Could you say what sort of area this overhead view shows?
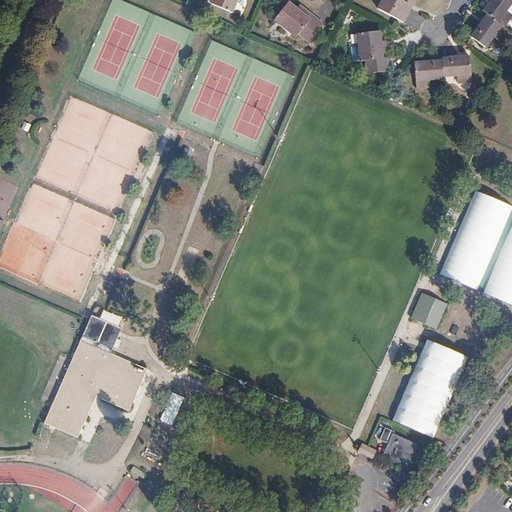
sports ground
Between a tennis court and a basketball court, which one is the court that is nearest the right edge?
tennis court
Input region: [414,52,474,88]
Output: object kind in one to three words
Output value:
house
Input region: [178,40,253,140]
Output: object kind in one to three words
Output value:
tennis court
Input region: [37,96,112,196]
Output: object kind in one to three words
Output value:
tennis court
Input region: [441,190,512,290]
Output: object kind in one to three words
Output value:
building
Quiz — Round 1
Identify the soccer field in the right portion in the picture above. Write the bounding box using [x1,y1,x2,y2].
[196,67,456,430]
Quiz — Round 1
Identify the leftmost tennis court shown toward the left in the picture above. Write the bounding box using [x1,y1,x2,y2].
[0,184,74,284]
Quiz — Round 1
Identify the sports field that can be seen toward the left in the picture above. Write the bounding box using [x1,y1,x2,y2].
[0,317,39,442]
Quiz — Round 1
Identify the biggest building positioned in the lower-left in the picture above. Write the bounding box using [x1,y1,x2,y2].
[44,310,146,438]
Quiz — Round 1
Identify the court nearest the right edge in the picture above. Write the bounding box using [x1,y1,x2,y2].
[219,58,294,158]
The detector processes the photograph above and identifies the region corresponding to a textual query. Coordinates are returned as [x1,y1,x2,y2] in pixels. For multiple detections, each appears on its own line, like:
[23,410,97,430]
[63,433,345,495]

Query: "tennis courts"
[40,202,115,301]
[219,58,294,158]
[78,114,153,214]
[78,0,153,97]
[178,40,253,140]
[0,184,74,284]
[37,96,112,196]
[118,14,194,114]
